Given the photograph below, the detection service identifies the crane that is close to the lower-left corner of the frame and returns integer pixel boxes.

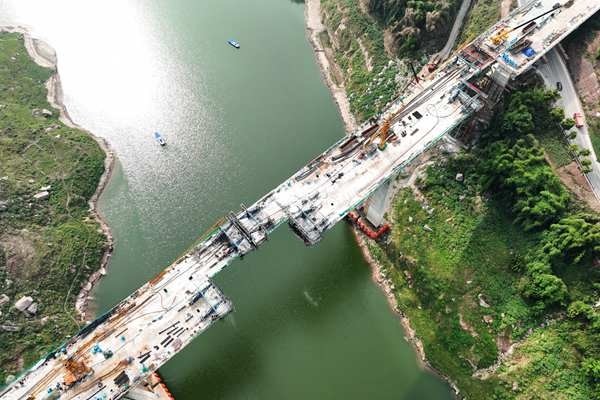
[59,350,96,388]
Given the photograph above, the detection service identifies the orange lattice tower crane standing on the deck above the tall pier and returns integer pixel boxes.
[364,108,411,155]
